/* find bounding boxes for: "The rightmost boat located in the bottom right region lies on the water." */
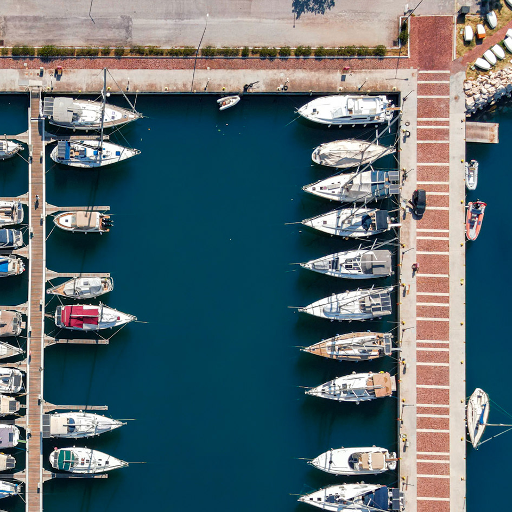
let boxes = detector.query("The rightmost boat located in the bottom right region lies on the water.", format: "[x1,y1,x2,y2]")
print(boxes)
[465,389,512,461]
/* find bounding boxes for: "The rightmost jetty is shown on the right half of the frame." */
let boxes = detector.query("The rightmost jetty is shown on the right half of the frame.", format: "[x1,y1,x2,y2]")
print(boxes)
[466,121,500,144]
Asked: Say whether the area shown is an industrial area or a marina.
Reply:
marina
